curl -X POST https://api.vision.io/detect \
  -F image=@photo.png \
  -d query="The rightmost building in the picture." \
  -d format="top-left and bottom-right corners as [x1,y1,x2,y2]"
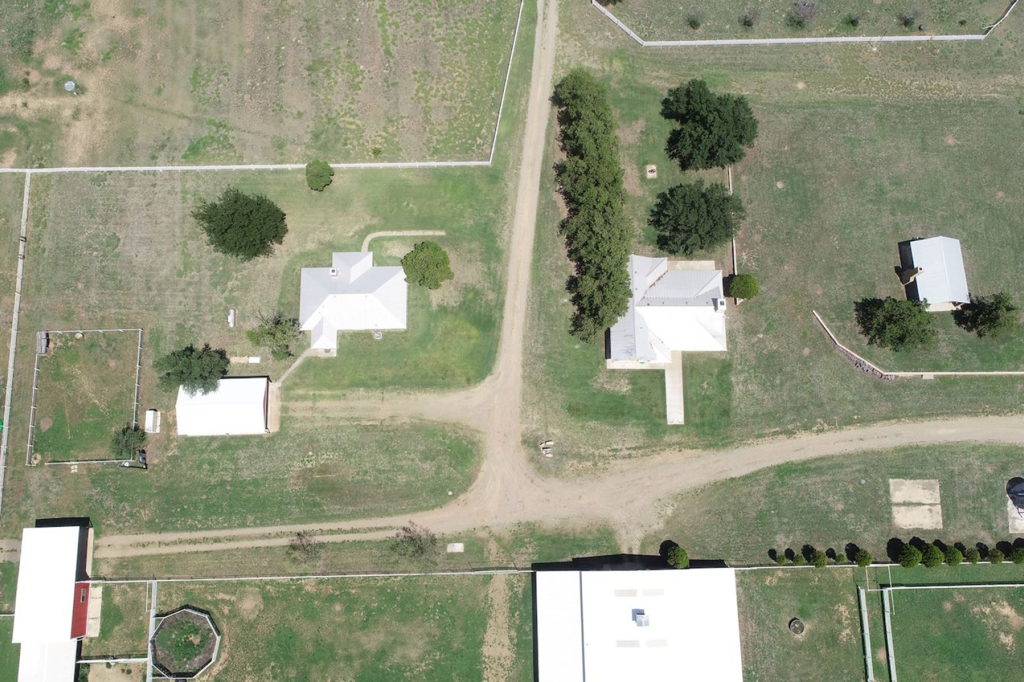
[897,236,970,311]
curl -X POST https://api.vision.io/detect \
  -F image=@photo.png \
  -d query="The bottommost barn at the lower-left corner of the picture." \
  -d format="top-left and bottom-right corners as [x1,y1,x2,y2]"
[12,526,93,682]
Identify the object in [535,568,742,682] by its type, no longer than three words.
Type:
barn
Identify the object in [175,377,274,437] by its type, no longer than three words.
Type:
building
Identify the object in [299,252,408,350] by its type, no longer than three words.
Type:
house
